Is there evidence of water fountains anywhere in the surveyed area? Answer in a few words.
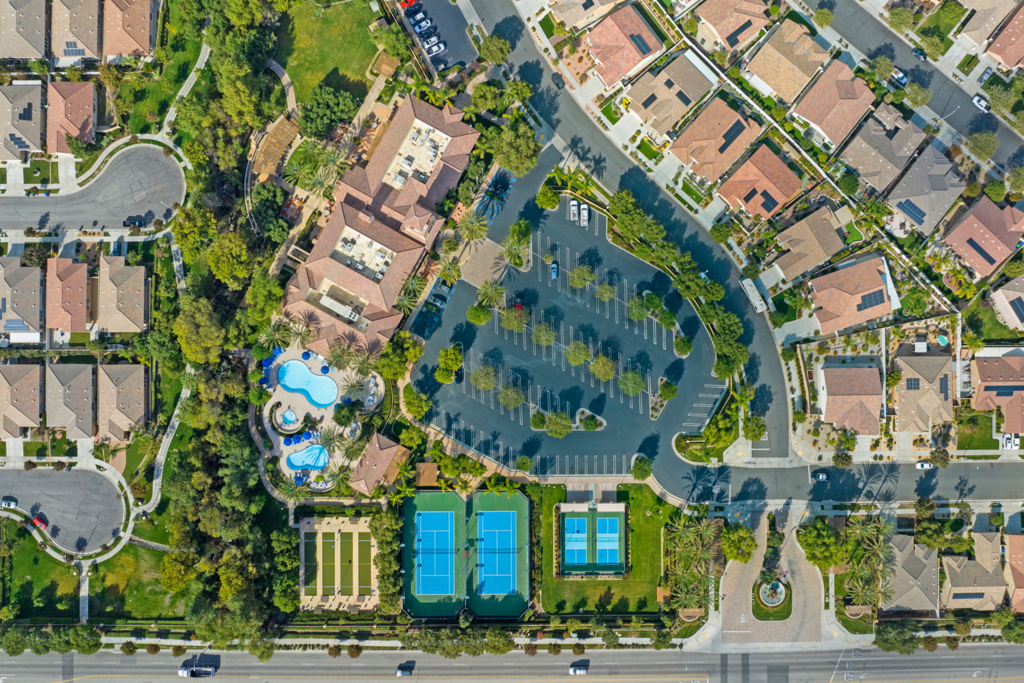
Yes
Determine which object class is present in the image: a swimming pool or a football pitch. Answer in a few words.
swimming pool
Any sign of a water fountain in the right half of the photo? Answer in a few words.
Yes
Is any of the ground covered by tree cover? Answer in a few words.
Yes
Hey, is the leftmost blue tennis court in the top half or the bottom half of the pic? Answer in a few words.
bottom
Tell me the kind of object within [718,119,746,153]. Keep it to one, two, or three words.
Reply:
solar panel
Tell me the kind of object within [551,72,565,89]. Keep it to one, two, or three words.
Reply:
car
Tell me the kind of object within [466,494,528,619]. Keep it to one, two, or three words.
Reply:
tennis court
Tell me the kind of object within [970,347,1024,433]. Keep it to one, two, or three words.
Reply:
house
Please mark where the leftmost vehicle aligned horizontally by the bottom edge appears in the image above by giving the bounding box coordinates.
[180,665,218,679]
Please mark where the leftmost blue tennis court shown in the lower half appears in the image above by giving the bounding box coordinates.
[403,494,466,619]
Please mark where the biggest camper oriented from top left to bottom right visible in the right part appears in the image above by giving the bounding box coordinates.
[738,277,770,314]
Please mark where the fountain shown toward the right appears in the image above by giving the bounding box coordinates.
[759,581,786,607]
